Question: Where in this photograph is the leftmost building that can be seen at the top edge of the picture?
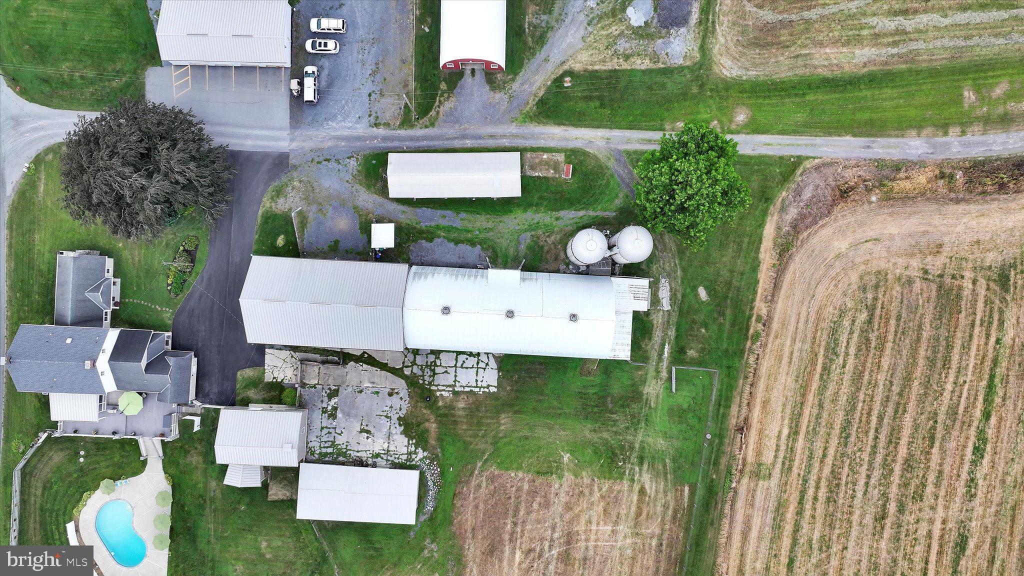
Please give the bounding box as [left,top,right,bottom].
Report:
[156,0,292,68]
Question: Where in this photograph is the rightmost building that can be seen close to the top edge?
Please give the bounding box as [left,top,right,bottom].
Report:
[440,0,505,73]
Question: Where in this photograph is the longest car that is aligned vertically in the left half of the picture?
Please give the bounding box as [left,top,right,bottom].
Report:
[304,70,321,109]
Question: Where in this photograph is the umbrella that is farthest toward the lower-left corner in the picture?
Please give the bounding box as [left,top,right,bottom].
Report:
[101,478,118,494]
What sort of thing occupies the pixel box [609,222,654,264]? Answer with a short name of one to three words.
silo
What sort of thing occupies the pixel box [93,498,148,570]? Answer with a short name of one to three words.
swimming pool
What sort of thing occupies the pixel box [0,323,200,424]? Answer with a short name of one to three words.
house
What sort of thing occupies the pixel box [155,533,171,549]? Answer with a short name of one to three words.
umbrella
